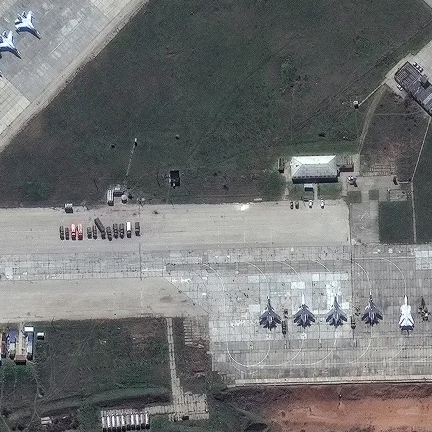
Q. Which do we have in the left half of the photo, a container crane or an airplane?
airplane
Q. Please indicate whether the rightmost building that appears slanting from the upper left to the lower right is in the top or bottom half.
top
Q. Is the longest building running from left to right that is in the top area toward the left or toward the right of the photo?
right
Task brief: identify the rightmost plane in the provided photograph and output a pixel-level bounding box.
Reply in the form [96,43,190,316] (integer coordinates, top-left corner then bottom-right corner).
[399,296,414,329]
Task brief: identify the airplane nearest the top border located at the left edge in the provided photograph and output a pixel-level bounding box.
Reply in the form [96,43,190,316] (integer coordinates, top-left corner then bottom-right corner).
[13,10,41,37]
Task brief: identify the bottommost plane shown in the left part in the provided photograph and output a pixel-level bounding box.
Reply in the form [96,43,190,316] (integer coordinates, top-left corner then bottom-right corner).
[0,28,19,54]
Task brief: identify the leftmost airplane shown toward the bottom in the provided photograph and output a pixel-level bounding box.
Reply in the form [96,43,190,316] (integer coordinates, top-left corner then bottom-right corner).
[258,296,281,327]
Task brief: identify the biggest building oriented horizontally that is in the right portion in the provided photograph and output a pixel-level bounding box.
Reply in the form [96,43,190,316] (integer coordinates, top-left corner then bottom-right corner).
[291,156,338,179]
